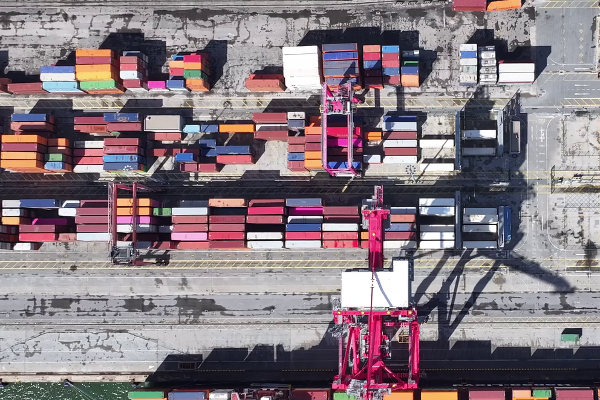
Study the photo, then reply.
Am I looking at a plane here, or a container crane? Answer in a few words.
container crane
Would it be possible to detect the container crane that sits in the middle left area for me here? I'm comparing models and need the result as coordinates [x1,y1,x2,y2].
[109,184,164,266]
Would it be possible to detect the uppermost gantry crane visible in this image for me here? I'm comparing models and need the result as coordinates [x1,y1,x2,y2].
[322,91,363,177]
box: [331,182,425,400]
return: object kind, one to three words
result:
container crane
